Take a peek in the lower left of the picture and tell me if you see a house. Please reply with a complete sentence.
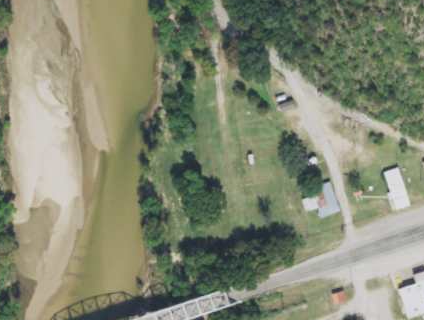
No, I can find no house in the lower left of the picture.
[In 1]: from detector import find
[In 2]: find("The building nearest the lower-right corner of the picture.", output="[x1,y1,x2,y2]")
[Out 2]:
[398,274,424,320]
